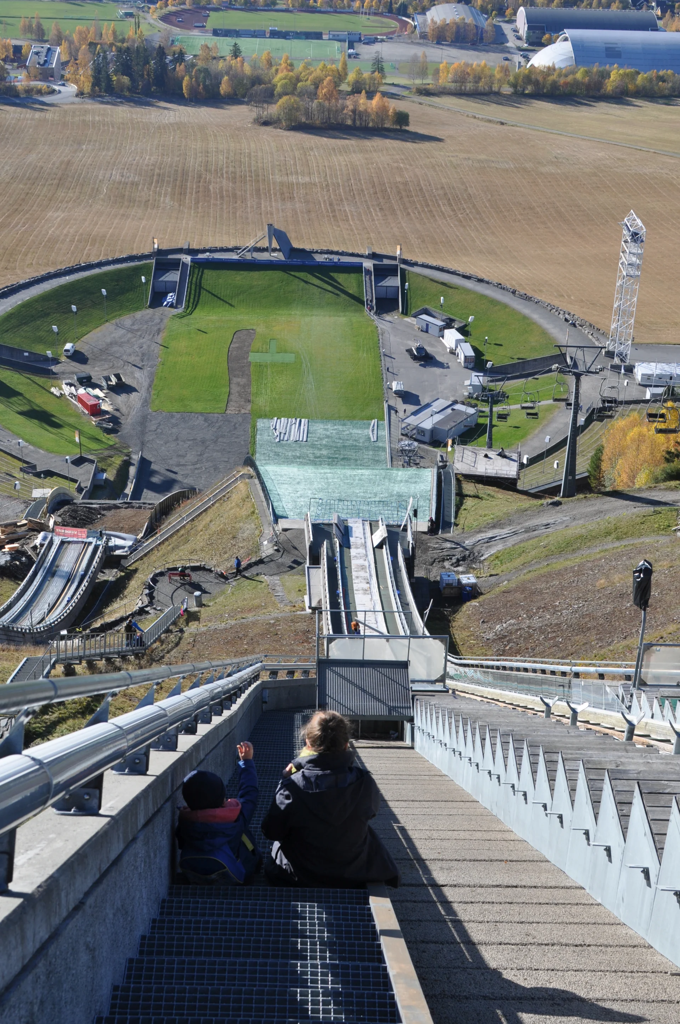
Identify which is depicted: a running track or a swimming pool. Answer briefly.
running track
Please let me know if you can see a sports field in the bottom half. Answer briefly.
No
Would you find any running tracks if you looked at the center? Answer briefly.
No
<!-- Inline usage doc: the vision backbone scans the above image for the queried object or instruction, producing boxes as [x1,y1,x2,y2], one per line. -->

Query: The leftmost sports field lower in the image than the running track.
[173,36,341,59]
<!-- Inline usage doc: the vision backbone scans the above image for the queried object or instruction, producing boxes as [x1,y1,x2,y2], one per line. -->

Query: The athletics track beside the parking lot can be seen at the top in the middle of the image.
[163,7,413,36]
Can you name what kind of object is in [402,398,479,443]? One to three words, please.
building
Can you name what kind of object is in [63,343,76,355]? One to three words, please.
vehicle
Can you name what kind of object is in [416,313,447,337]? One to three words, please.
shed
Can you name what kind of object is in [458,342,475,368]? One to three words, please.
shed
